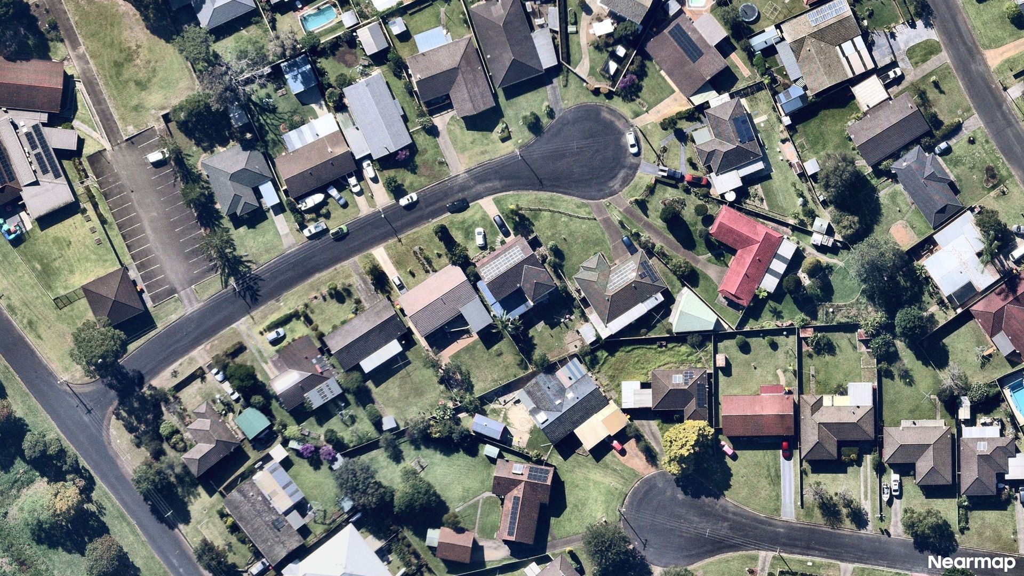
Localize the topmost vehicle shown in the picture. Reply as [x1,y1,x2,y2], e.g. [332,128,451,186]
[879,67,903,84]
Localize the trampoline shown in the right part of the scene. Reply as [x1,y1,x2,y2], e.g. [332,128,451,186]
[740,3,758,21]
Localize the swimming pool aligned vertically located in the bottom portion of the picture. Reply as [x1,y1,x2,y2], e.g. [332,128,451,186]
[1003,377,1024,426]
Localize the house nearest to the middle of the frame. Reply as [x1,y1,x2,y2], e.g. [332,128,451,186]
[475,234,557,318]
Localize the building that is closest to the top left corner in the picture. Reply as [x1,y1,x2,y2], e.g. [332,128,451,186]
[0,56,64,113]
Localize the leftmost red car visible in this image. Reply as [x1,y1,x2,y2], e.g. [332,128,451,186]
[611,440,625,455]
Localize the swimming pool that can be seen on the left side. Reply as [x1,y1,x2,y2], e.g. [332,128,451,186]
[299,3,342,33]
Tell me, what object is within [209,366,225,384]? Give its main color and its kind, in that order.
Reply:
white car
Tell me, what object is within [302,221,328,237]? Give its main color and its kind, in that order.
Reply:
white vehicle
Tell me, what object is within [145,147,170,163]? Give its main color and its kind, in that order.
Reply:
white car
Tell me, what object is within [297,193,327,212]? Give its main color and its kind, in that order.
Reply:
white boat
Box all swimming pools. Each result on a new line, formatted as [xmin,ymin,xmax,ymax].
[299,3,342,33]
[1003,377,1024,426]
[687,0,713,9]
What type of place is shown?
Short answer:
residential area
